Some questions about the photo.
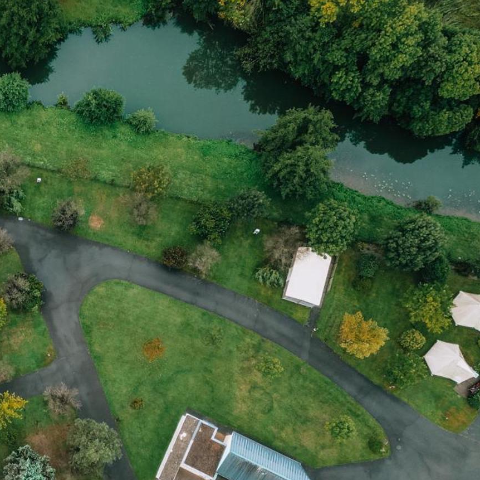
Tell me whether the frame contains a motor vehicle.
No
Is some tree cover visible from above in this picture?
Yes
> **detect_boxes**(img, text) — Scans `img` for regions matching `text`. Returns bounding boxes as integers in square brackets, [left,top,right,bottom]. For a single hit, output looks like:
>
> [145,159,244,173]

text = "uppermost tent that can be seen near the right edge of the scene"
[448,291,480,331]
